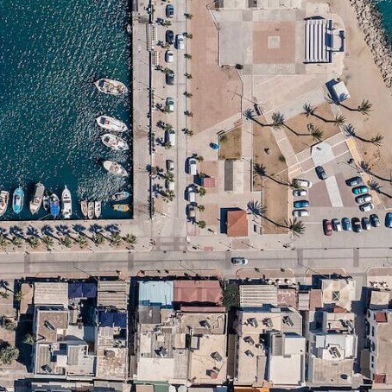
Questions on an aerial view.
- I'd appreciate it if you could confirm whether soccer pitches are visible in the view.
No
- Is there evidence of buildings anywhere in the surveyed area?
Yes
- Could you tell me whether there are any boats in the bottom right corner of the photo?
No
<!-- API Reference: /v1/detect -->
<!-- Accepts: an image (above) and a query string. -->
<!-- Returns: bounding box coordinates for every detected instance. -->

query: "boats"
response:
[103,161,130,180]
[12,187,24,214]
[111,204,129,211]
[94,199,100,218]
[49,193,58,218]
[59,187,72,220]
[94,117,127,132]
[81,200,87,218]
[29,183,44,215]
[111,191,129,200]
[42,194,49,212]
[93,80,134,94]
[86,200,93,219]
[99,135,127,151]
[0,191,8,215]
